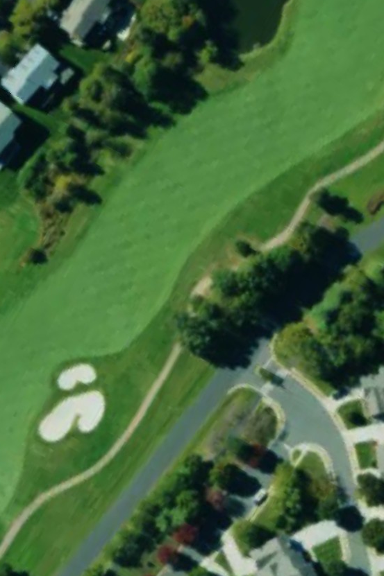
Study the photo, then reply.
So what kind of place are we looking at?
golf course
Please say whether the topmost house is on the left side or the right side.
left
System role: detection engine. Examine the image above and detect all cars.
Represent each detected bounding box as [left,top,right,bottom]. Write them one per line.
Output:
[255,490,266,503]
[277,429,287,442]
[47,9,60,19]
